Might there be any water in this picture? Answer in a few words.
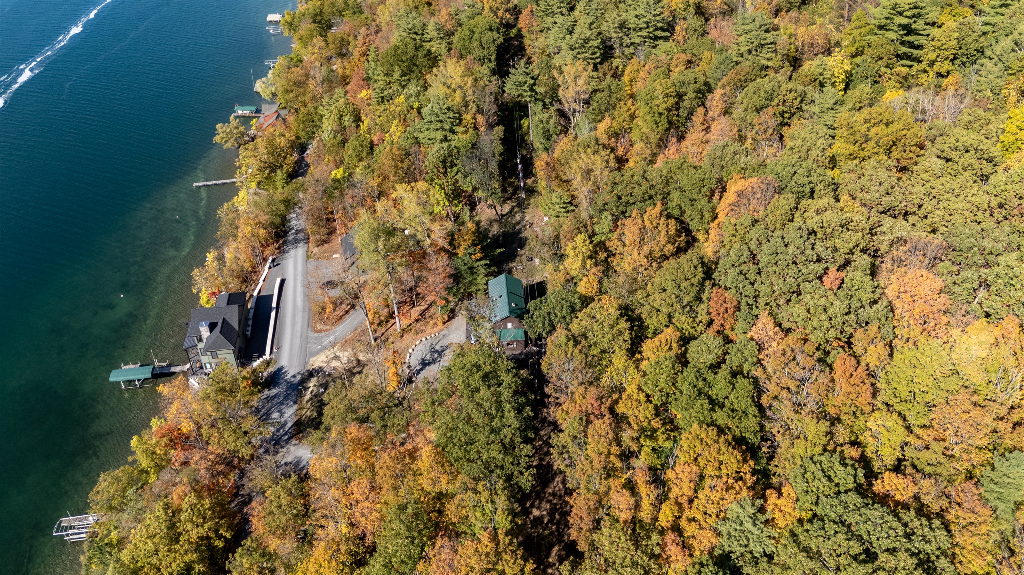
Yes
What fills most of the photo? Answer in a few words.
trees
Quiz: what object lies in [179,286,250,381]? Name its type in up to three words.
house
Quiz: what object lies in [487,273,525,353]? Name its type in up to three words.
house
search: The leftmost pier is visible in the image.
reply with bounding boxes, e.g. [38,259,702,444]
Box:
[51,511,103,539]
